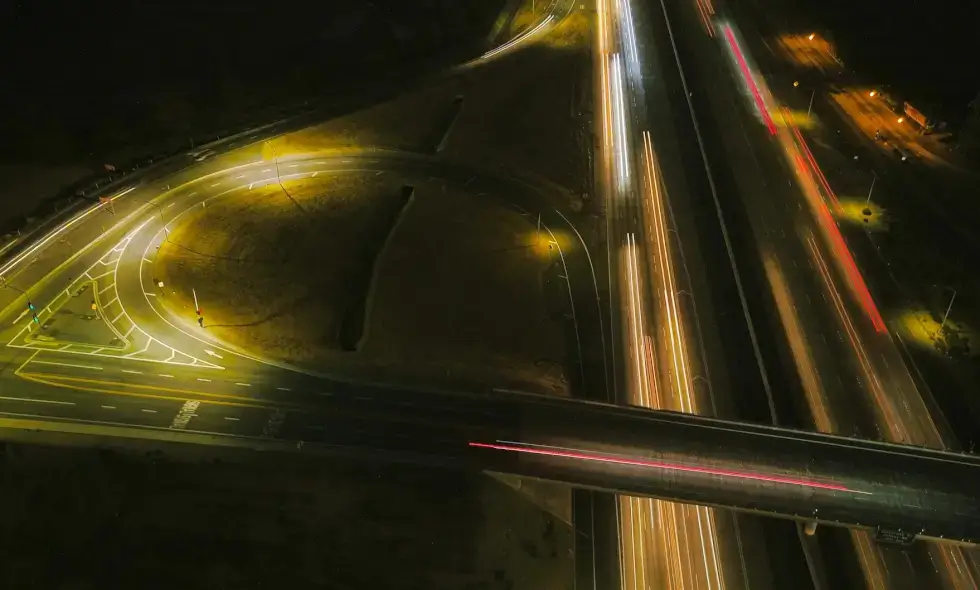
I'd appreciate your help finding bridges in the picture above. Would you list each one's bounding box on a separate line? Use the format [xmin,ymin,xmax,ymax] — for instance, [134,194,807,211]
[473,388,980,558]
